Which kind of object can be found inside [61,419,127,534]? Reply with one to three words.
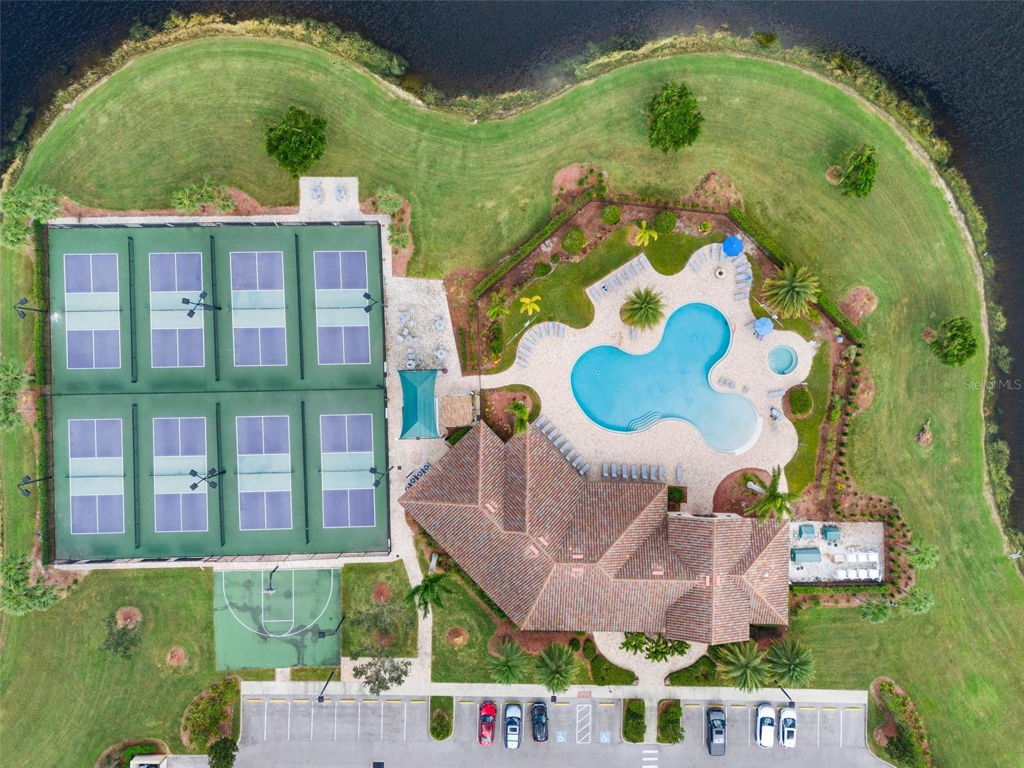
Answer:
sports court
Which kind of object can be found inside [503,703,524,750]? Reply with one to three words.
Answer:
car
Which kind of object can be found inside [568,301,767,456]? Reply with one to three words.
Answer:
swimming pool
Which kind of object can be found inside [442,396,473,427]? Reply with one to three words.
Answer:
shed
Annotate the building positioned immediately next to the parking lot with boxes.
[398,420,790,645]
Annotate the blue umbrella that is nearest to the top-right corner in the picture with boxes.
[721,236,743,257]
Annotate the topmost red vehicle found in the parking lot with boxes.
[478,701,498,747]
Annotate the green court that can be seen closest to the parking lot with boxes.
[213,567,341,670]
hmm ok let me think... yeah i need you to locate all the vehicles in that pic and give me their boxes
[755,704,778,748]
[706,708,728,757]
[530,702,550,743]
[778,708,800,749]
[503,703,524,750]
[478,701,498,747]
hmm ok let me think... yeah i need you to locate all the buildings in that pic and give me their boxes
[442,396,473,427]
[398,420,790,645]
